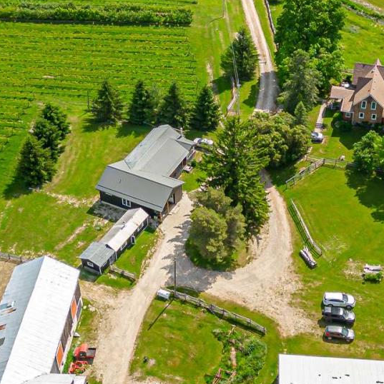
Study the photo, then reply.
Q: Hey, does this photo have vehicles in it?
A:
Yes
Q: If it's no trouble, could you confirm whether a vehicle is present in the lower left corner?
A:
Yes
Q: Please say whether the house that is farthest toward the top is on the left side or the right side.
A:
right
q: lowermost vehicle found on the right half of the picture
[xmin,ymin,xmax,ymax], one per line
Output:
[325,328,354,344]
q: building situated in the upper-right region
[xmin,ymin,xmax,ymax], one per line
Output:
[329,51,384,131]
